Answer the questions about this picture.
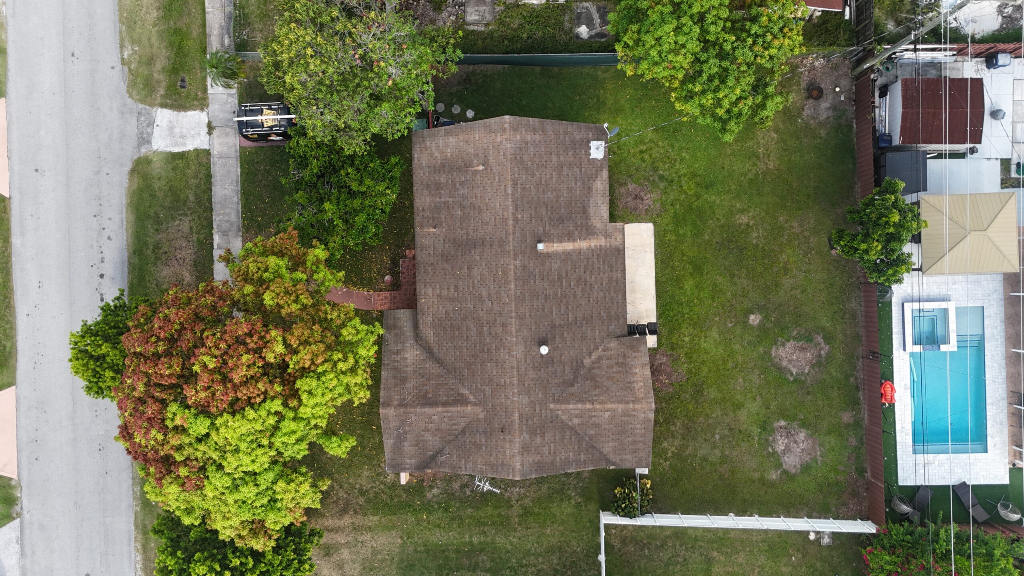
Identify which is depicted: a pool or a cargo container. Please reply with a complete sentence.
Of the two, only a pool appears.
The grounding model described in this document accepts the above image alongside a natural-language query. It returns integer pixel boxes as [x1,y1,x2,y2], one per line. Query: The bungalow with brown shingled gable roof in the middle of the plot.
[379,116,655,484]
